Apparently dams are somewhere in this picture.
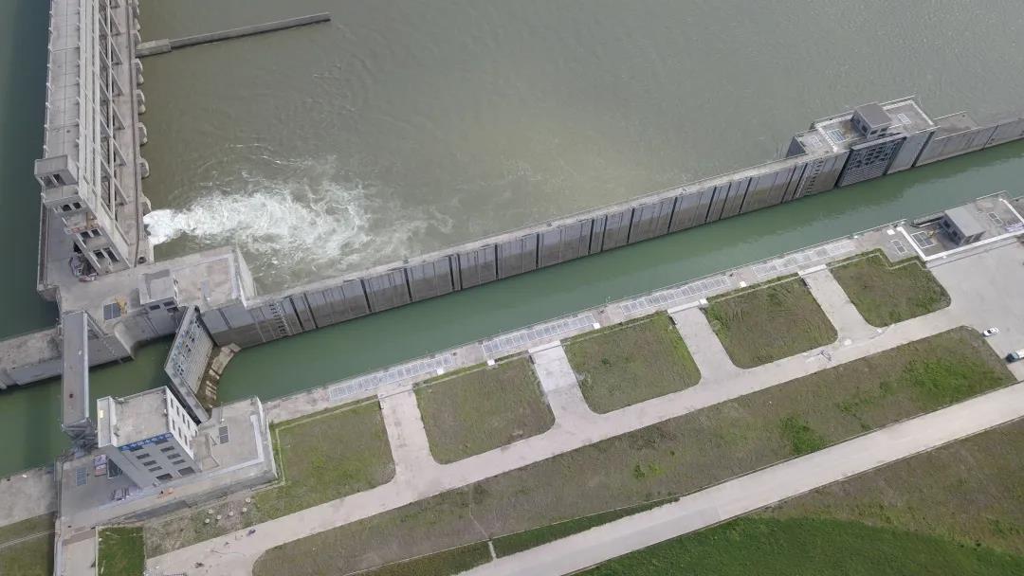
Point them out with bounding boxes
[35,0,166,294]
